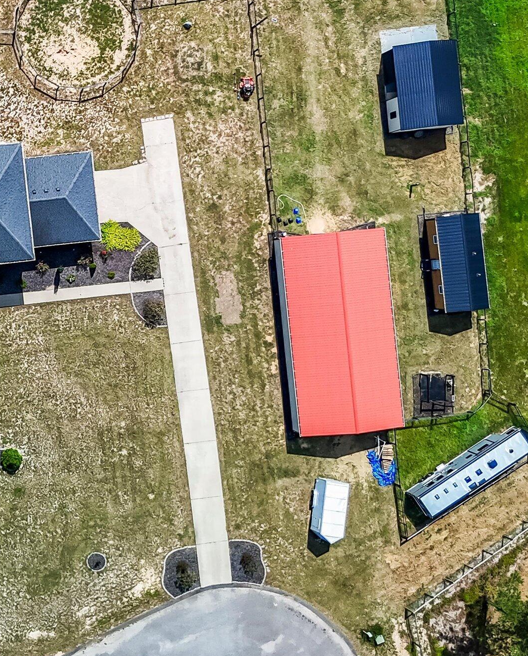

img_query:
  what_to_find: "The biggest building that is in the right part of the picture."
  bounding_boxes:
[275,227,406,437]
